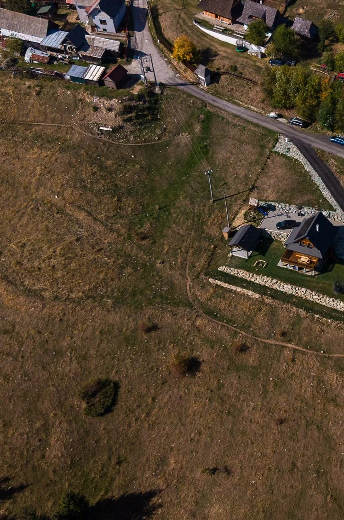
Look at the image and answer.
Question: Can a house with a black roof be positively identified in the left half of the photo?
Yes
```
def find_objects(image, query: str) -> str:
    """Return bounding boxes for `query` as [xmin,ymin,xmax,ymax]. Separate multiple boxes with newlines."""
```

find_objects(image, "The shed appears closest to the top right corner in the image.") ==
[291,16,316,44]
